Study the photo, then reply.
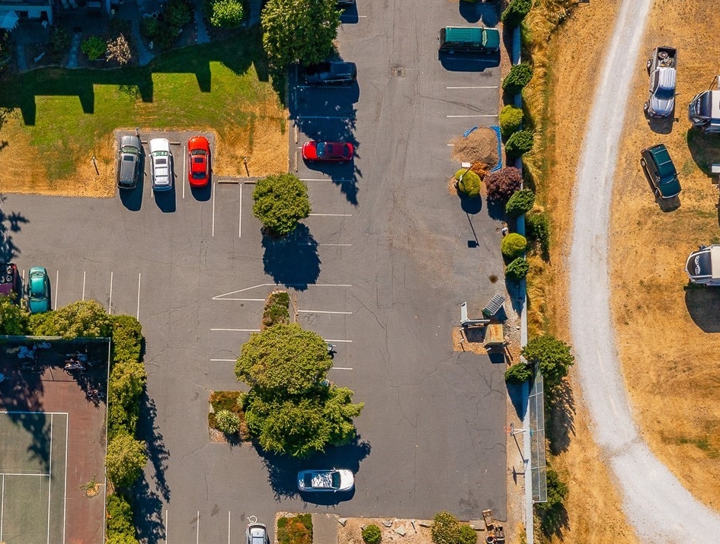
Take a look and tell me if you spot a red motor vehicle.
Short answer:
Yes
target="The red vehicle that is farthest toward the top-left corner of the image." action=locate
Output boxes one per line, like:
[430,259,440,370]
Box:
[186,139,212,188]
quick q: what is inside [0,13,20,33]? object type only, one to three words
umbrella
